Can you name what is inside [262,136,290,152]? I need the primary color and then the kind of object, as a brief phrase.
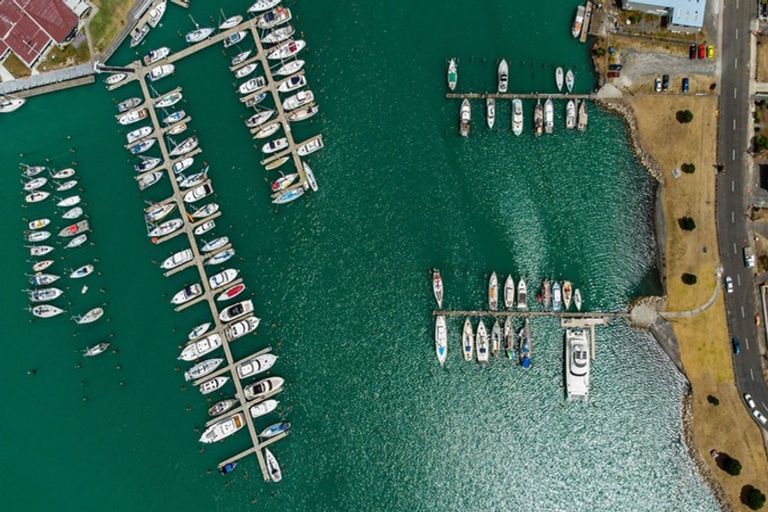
white boat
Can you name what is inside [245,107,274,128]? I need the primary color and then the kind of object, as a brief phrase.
white boat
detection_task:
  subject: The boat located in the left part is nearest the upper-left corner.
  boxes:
[0,94,27,115]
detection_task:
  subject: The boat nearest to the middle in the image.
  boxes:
[431,269,443,309]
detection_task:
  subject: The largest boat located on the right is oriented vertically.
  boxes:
[564,327,592,402]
